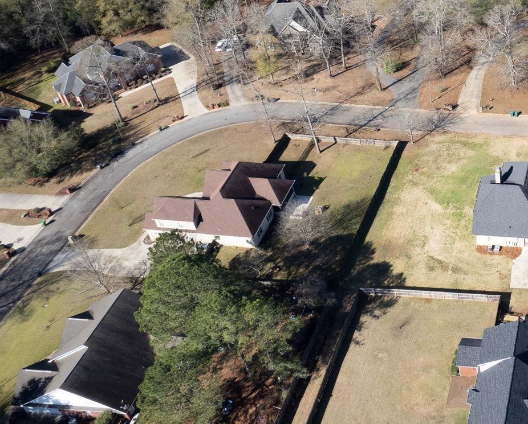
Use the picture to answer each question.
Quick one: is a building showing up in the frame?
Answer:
Yes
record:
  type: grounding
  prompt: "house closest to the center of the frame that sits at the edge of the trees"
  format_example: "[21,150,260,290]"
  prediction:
[143,161,295,247]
